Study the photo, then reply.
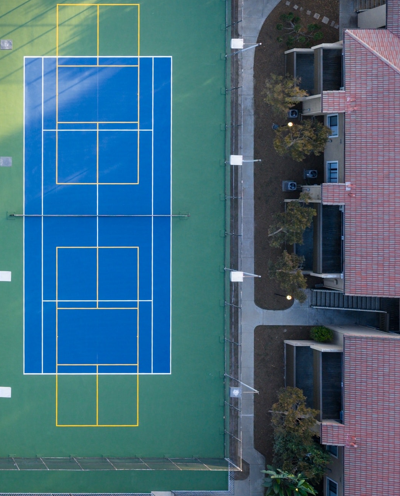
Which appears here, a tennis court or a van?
tennis court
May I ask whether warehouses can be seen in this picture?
No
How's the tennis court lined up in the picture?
from top to bottom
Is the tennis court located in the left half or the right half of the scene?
left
